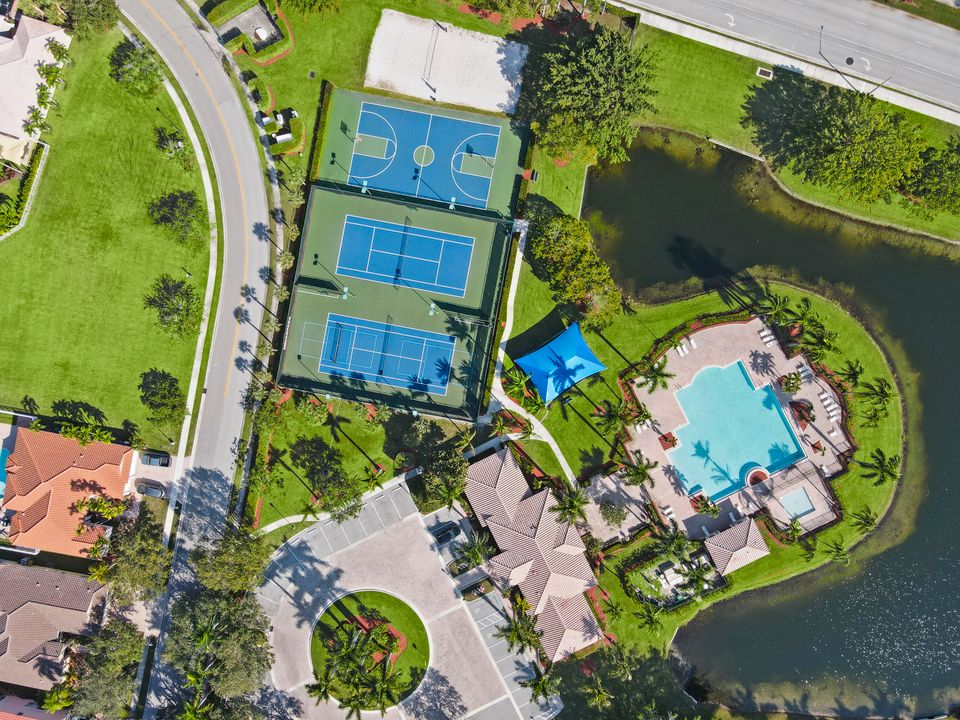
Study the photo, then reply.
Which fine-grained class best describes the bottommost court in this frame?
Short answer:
tennis court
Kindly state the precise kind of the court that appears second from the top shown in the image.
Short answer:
basketball court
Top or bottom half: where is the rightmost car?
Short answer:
bottom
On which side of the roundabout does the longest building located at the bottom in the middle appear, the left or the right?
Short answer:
on the right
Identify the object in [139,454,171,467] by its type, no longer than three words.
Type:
vehicle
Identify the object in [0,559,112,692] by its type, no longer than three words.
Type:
house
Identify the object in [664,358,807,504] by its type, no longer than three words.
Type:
swimming pool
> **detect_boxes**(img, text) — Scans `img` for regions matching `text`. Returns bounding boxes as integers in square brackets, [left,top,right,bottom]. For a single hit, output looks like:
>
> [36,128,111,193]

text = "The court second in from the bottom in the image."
[299,190,512,322]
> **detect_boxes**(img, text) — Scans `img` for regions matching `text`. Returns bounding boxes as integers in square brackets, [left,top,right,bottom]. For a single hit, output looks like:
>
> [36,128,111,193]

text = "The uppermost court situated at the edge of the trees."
[365,9,529,113]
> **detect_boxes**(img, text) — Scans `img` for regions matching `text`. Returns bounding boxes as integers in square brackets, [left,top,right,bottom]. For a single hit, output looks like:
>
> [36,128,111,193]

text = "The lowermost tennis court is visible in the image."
[283,288,494,419]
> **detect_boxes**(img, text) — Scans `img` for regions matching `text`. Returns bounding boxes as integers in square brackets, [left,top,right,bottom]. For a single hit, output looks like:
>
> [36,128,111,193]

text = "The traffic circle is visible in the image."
[308,589,431,712]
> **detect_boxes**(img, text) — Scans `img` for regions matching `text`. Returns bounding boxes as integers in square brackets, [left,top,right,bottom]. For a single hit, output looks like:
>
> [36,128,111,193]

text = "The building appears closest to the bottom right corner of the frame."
[700,516,771,578]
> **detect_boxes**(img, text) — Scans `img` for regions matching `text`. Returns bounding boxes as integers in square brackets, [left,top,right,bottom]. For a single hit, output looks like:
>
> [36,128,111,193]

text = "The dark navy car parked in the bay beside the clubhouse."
[434,522,461,543]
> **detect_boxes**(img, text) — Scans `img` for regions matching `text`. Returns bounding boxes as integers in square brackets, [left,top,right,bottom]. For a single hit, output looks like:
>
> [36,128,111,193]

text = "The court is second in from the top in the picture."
[313,88,527,220]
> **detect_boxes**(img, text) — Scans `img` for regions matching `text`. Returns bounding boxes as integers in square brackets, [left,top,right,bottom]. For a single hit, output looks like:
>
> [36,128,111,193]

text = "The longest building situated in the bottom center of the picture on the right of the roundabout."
[458,446,605,663]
